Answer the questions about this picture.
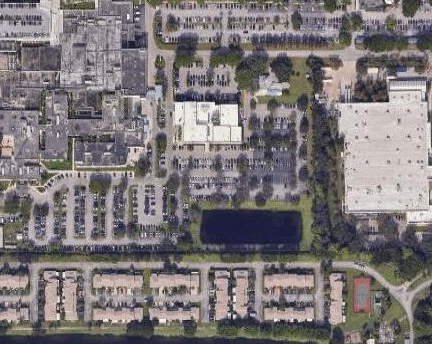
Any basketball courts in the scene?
No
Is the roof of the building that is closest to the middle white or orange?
white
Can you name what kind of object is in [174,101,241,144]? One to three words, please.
building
